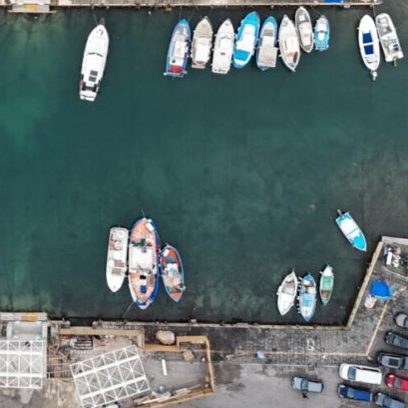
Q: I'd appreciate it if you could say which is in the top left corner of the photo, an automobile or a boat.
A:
boat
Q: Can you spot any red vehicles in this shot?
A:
Yes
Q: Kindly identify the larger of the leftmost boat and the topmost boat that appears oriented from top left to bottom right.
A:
the leftmost boat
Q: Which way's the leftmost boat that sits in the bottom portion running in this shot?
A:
up and down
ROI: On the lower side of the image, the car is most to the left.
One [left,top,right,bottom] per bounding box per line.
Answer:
[289,374,323,391]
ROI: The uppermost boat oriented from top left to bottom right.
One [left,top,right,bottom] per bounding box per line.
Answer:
[338,210,368,250]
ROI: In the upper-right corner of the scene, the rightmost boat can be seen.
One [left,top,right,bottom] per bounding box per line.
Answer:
[376,2,403,66]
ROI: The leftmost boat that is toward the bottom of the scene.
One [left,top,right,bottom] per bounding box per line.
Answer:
[106,226,129,293]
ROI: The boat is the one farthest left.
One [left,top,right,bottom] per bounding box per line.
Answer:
[77,7,109,105]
